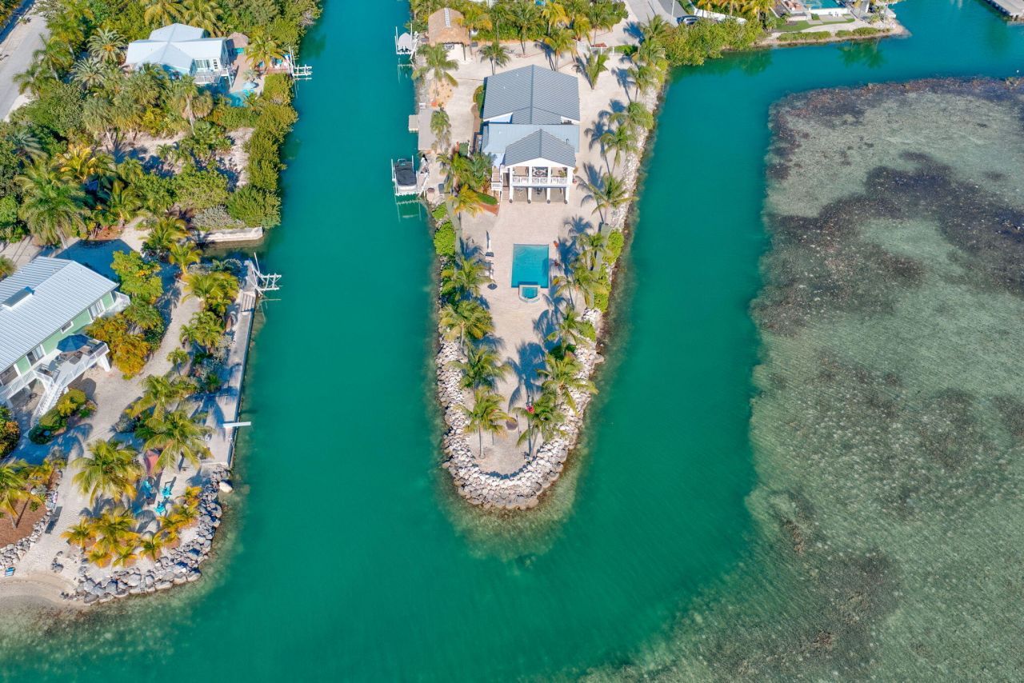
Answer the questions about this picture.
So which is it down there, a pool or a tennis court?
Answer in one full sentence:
This aerial view contains a pool.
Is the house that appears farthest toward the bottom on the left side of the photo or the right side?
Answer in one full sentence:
The house that appears farthest toward the bottom is on the left side of the image.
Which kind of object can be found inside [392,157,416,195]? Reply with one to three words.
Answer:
boat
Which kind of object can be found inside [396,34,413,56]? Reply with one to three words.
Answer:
boat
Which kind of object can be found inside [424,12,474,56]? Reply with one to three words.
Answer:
shed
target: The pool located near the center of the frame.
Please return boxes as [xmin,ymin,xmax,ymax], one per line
[508,242,552,299]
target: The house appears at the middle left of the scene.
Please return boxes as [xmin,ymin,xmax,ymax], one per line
[0,261,133,428]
